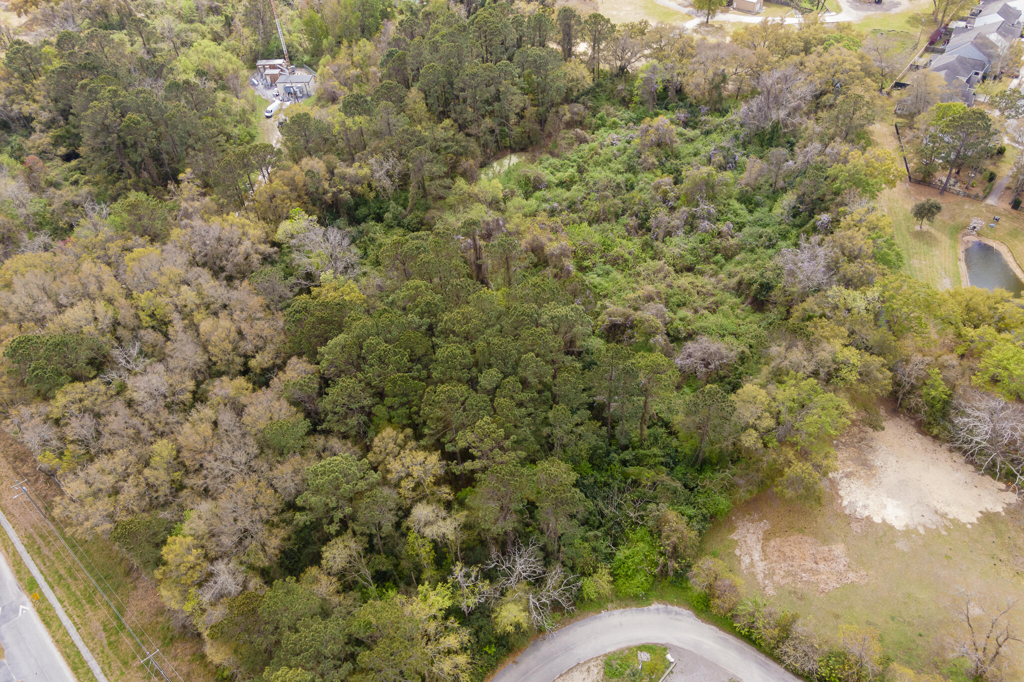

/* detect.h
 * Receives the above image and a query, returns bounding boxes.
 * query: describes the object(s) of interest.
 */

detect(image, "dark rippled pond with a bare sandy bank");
[965,242,1024,328]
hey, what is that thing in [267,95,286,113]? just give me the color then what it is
white vehicle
